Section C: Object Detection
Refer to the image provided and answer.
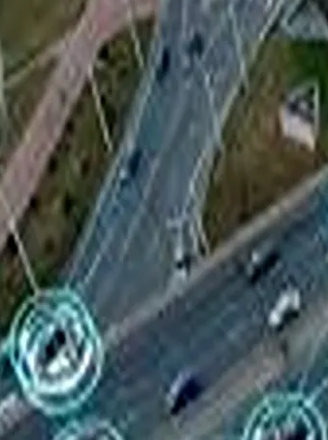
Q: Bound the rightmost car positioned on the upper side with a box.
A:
[183,30,207,56]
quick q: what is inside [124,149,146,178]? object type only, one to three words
car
